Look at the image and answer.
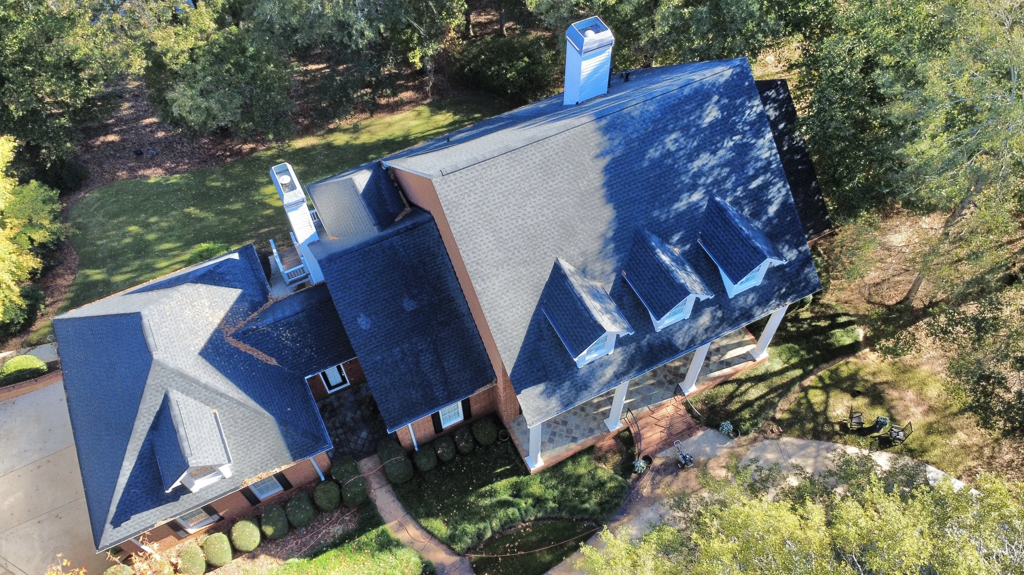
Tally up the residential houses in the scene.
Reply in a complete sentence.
In total, there is 1 residential house in the scene.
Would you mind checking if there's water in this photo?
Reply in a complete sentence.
No, no water is visible.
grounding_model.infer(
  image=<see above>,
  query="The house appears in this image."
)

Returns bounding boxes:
[49,17,838,561]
